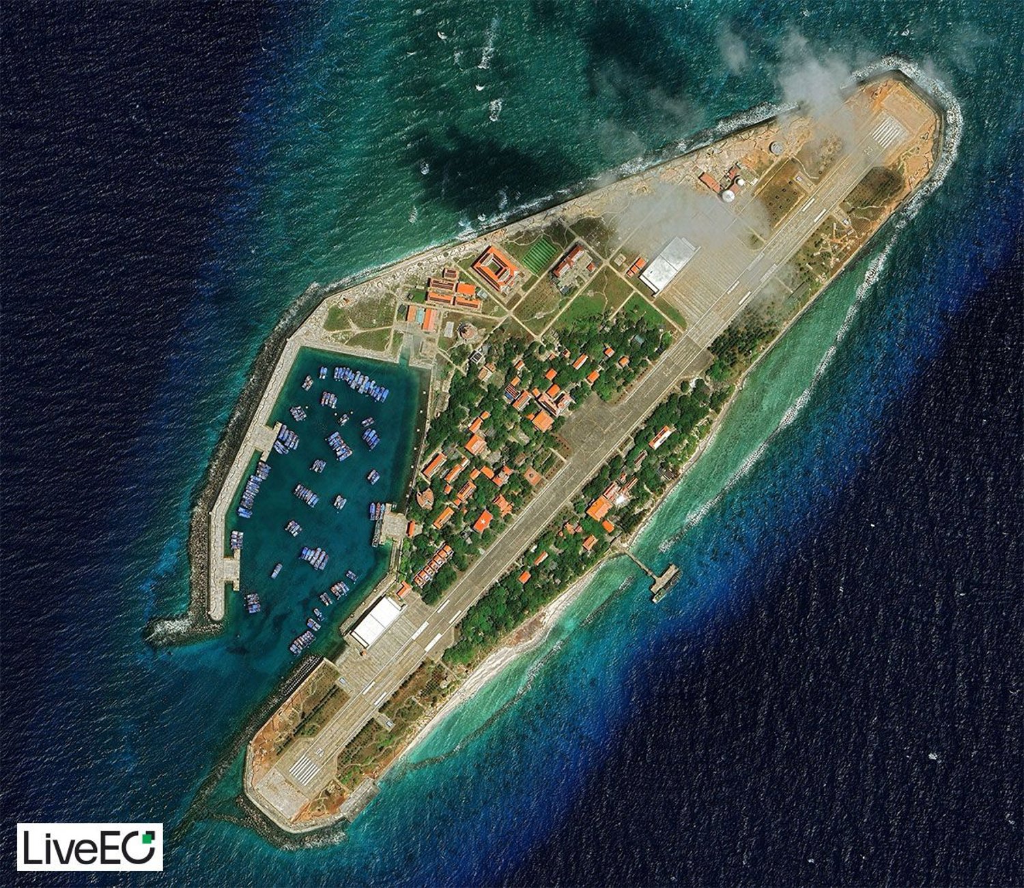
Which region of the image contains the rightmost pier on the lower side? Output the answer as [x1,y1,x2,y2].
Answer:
[621,544,679,594]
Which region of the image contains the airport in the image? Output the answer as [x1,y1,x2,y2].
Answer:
[256,83,936,819]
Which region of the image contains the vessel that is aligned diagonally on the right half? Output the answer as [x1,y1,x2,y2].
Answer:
[652,571,683,605]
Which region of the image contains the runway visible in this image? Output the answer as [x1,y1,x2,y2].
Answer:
[283,116,900,793]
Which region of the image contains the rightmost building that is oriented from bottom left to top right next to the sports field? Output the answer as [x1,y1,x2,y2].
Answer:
[553,244,586,278]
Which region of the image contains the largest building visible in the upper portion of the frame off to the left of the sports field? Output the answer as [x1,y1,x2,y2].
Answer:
[472,245,524,296]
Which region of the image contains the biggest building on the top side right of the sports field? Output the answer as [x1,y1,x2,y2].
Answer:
[640,236,701,297]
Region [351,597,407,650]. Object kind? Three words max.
hangar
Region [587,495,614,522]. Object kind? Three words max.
building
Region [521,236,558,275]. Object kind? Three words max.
sports field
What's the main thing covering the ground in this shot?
water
